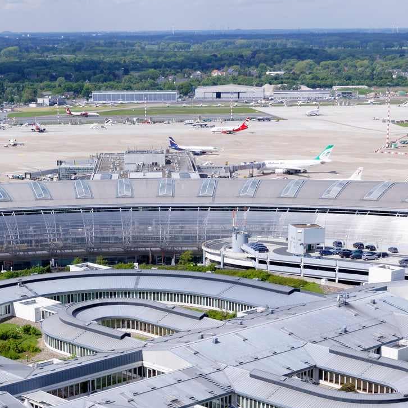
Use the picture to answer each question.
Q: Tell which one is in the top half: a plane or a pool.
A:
plane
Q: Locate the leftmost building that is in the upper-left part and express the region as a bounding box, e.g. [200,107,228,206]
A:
[37,98,65,115]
